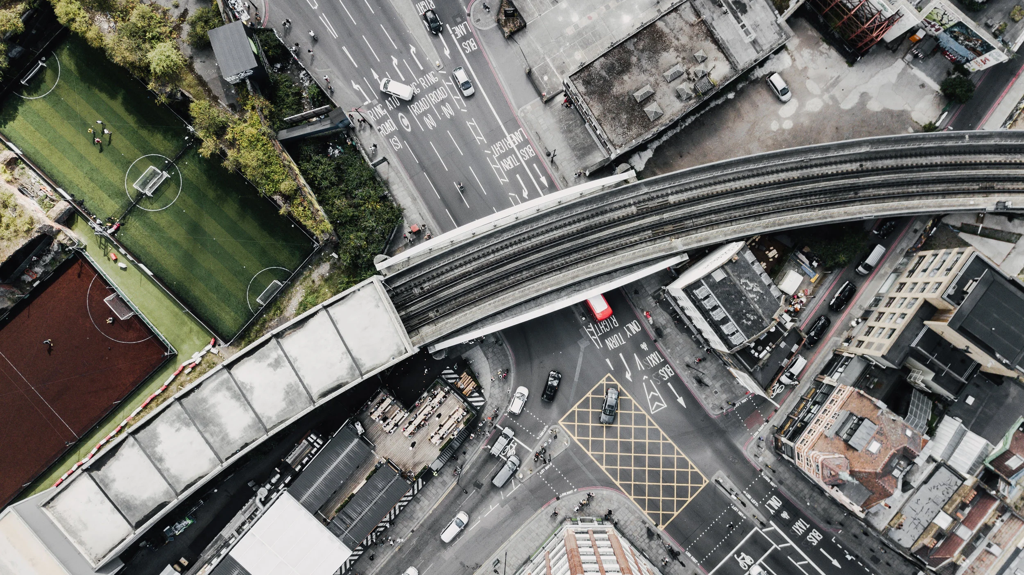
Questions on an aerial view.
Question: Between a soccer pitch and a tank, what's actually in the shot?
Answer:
soccer pitch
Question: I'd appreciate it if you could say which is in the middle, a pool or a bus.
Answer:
bus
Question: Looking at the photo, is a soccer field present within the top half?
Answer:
Yes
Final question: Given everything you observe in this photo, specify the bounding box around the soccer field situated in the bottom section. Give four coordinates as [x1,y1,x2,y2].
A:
[0,252,173,505]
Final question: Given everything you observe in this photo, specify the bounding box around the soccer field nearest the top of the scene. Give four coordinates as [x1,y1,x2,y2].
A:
[0,27,316,342]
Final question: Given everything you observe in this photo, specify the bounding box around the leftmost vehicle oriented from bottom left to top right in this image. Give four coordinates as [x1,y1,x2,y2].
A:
[156,503,201,545]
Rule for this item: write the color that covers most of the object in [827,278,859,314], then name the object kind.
black car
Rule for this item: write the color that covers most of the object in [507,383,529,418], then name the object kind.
white car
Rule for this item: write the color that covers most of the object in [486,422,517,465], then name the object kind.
white truck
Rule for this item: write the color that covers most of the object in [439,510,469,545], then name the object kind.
white car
